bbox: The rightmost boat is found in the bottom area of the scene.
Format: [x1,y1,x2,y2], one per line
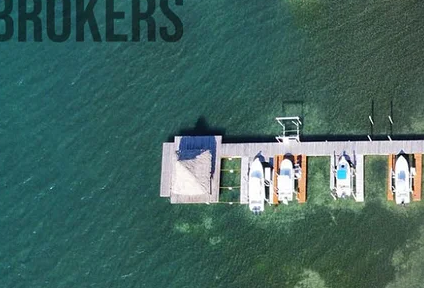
[395,156,410,207]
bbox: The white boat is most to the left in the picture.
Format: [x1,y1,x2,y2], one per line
[250,158,265,215]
